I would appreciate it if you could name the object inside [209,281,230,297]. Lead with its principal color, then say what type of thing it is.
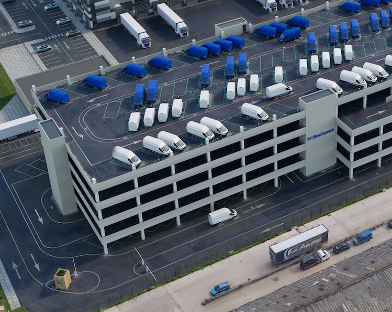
blue car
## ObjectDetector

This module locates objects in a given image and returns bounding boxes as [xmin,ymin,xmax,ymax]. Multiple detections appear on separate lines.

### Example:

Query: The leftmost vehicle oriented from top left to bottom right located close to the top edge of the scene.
[116,14,147,49]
